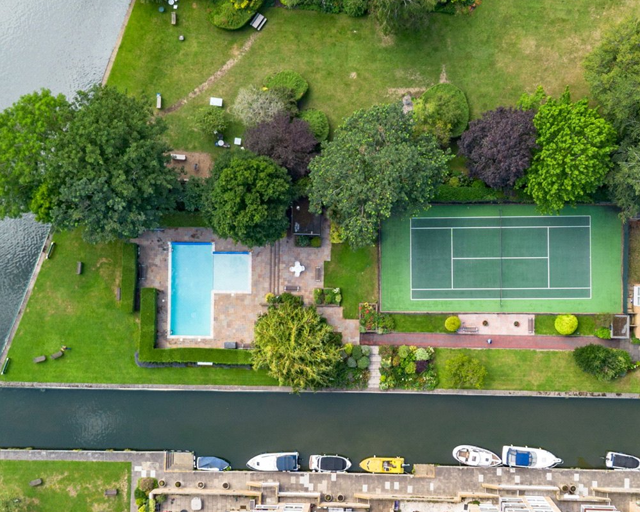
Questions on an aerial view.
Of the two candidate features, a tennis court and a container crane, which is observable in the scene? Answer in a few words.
tennis court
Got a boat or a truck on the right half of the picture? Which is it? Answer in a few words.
boat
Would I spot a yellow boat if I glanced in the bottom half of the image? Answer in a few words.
Yes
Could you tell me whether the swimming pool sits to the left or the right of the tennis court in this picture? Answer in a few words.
on its left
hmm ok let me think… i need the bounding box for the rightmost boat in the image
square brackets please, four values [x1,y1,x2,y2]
[604,451,640,468]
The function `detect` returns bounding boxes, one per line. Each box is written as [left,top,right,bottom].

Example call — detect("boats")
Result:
[308,455,350,473]
[360,457,408,474]
[502,445,562,468]
[604,451,640,468]
[195,454,229,471]
[246,452,302,472]
[453,445,502,466]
